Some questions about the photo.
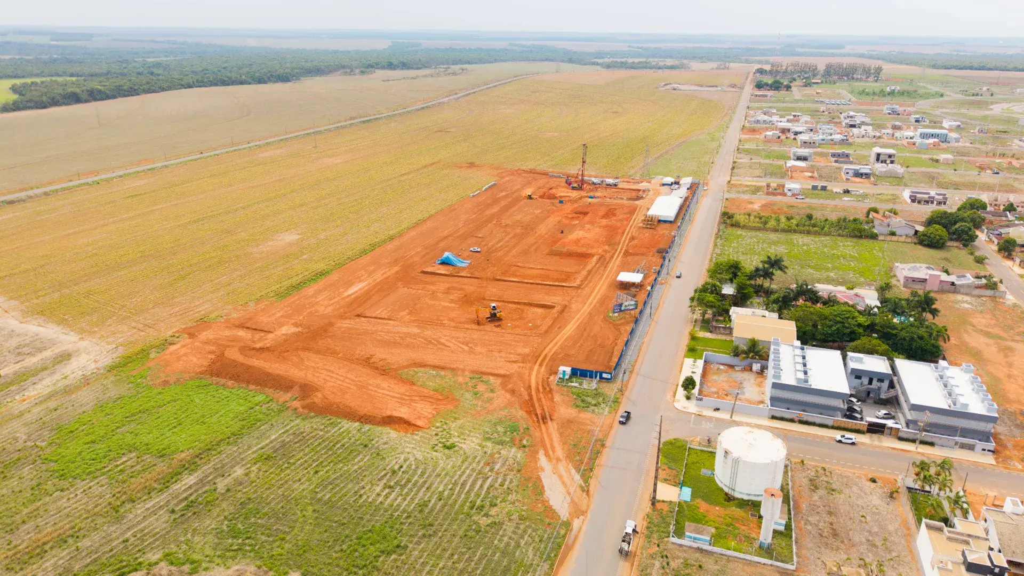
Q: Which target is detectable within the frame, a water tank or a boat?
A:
water tank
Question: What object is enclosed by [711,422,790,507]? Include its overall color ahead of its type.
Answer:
white water tank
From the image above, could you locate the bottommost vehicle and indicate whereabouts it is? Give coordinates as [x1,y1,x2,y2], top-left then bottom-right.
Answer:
[617,515,645,556]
